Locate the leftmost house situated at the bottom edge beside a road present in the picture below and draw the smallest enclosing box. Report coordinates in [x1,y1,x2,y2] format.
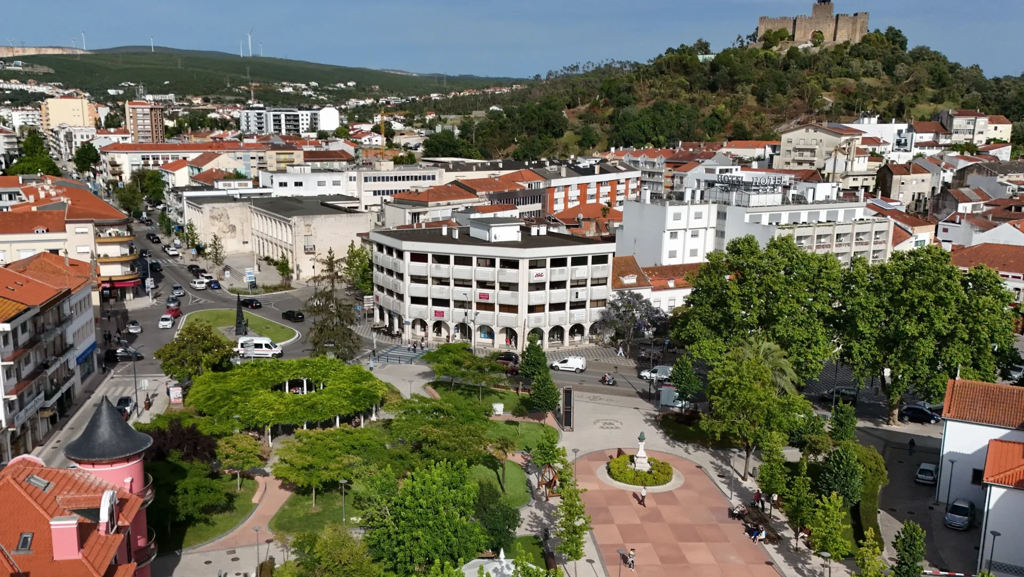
[0,395,166,577]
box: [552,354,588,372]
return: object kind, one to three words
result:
vehicle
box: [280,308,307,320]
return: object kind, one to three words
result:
vehicle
